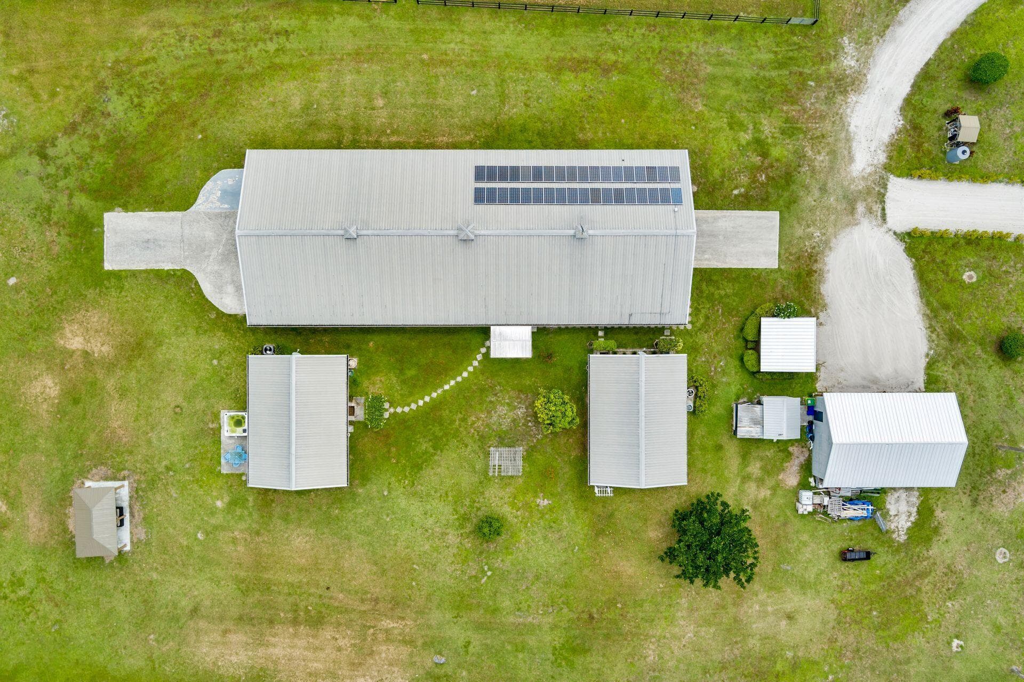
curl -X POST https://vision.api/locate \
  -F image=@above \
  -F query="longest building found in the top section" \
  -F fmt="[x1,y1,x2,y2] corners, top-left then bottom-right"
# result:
[235,149,696,358]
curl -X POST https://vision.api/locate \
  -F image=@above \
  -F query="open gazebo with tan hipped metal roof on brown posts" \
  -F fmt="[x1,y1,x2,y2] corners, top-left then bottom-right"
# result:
[74,484,128,559]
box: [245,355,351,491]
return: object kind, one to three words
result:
building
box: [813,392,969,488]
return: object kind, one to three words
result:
building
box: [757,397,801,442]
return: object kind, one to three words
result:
shed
